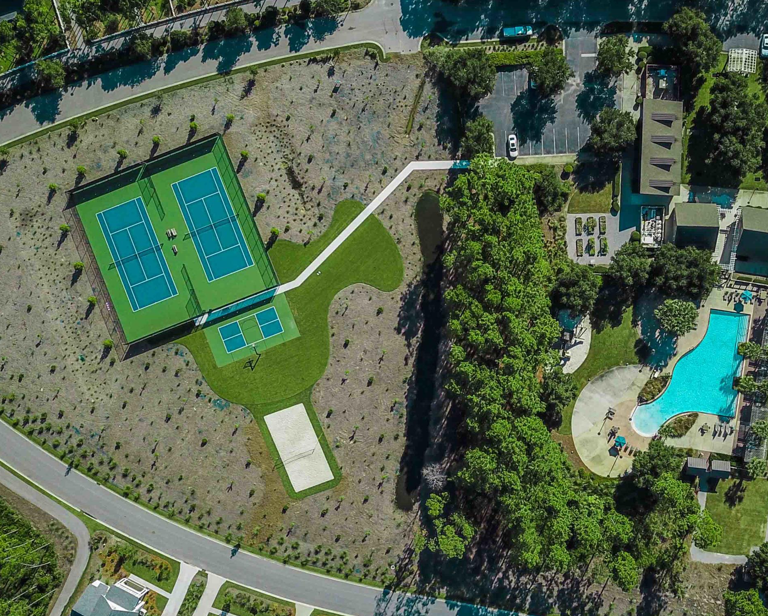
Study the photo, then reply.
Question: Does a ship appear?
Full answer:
No, the photo shows no ship.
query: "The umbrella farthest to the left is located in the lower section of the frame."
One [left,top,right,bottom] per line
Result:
[613,435,627,448]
